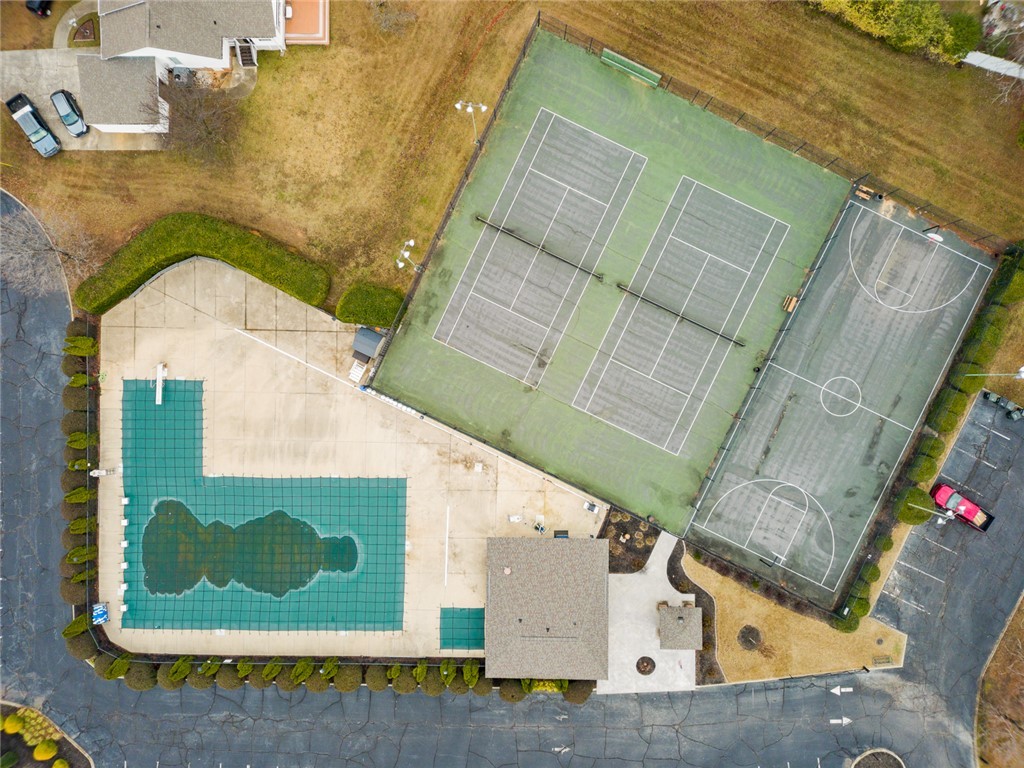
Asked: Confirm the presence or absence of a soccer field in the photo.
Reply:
No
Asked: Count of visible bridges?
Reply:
0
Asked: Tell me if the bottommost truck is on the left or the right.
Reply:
right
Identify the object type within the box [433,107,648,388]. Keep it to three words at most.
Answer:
tennis court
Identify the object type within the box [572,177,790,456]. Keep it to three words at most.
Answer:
tennis court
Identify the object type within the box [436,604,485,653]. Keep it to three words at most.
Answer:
swimming pool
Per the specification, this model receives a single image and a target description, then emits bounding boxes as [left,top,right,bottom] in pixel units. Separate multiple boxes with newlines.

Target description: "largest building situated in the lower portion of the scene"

[486,536,611,680]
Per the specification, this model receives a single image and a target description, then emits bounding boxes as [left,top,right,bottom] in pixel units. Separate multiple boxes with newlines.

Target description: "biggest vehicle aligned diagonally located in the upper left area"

[4,92,62,159]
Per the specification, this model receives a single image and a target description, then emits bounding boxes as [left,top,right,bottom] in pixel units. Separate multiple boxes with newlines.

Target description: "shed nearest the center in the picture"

[347,327,383,359]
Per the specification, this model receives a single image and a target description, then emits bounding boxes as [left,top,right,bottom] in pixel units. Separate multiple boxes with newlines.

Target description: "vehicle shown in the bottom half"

[930,481,996,534]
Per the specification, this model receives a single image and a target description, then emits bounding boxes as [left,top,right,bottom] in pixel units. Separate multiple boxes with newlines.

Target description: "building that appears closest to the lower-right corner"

[658,600,702,650]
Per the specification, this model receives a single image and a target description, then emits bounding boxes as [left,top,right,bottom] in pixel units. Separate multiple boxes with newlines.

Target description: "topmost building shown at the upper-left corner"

[77,0,286,134]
